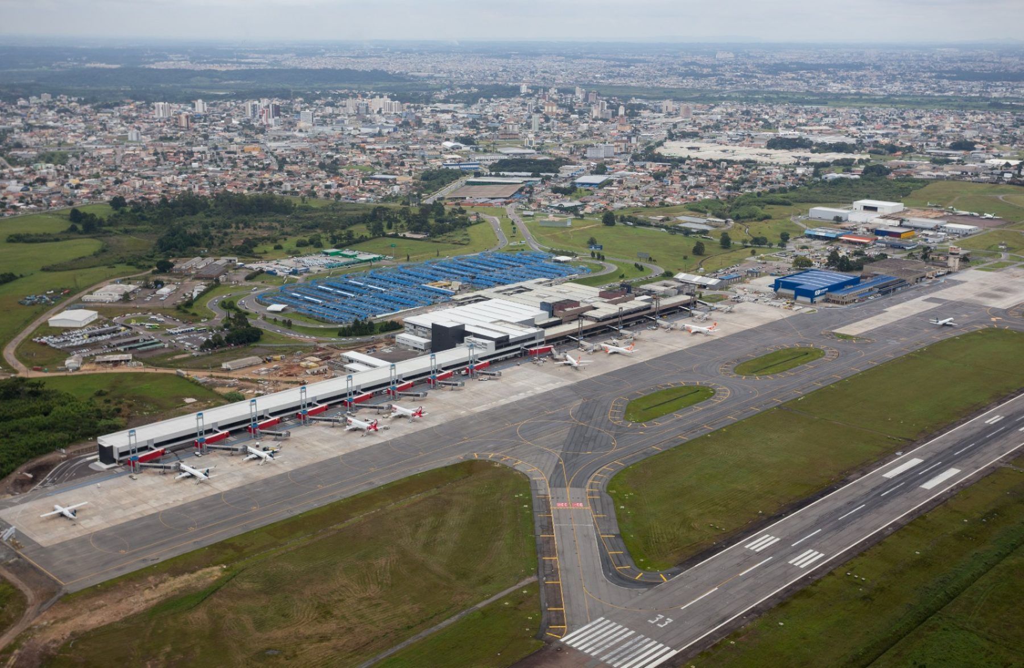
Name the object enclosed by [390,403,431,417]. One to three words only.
airplane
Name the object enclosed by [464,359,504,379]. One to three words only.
jet bridge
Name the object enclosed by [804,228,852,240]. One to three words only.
hangar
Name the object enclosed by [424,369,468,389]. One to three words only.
jet bridge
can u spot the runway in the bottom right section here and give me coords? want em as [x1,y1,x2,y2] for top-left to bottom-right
[550,393,1024,668]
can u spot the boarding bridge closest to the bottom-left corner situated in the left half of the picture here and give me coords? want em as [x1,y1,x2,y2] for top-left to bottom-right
[123,446,183,474]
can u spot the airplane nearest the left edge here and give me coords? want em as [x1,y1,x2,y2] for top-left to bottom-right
[43,501,88,516]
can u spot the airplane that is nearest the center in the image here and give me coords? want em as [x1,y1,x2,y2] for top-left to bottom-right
[554,354,594,367]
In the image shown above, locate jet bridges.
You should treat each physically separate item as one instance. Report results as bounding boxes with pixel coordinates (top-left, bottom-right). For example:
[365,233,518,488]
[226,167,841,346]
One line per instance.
[244,416,292,440]
[464,359,504,379]
[123,446,183,474]
[521,343,575,357]
[340,391,395,413]
[675,306,716,318]
[295,403,351,426]
[384,380,431,400]
[696,298,735,310]
[189,430,250,455]
[424,369,468,389]
[564,335,606,349]
[603,325,646,338]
